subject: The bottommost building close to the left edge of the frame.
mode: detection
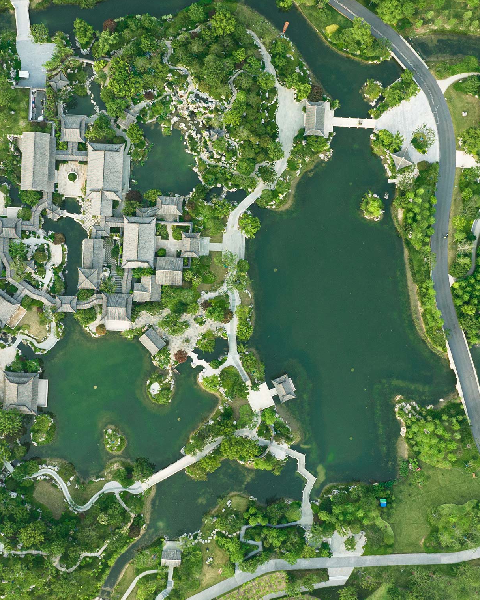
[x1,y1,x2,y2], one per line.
[1,369,43,416]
